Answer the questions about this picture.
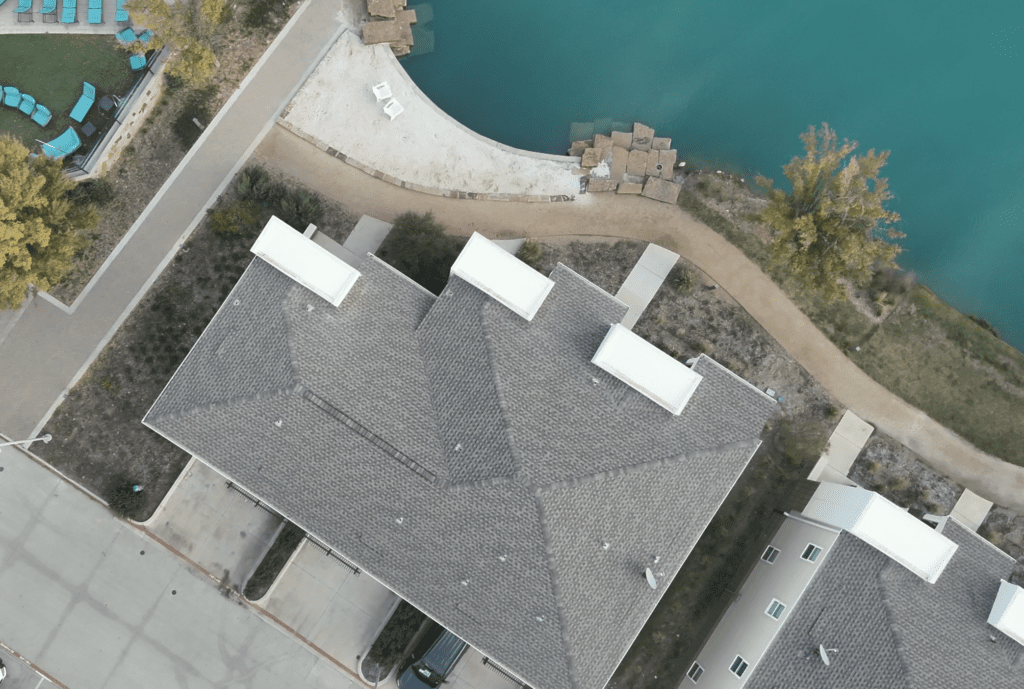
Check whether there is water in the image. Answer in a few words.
Yes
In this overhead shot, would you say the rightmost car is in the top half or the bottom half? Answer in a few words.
bottom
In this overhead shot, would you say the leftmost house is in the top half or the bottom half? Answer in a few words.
bottom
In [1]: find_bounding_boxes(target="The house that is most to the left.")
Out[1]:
[142,214,776,689]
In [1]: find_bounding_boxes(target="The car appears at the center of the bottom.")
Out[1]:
[399,624,471,689]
